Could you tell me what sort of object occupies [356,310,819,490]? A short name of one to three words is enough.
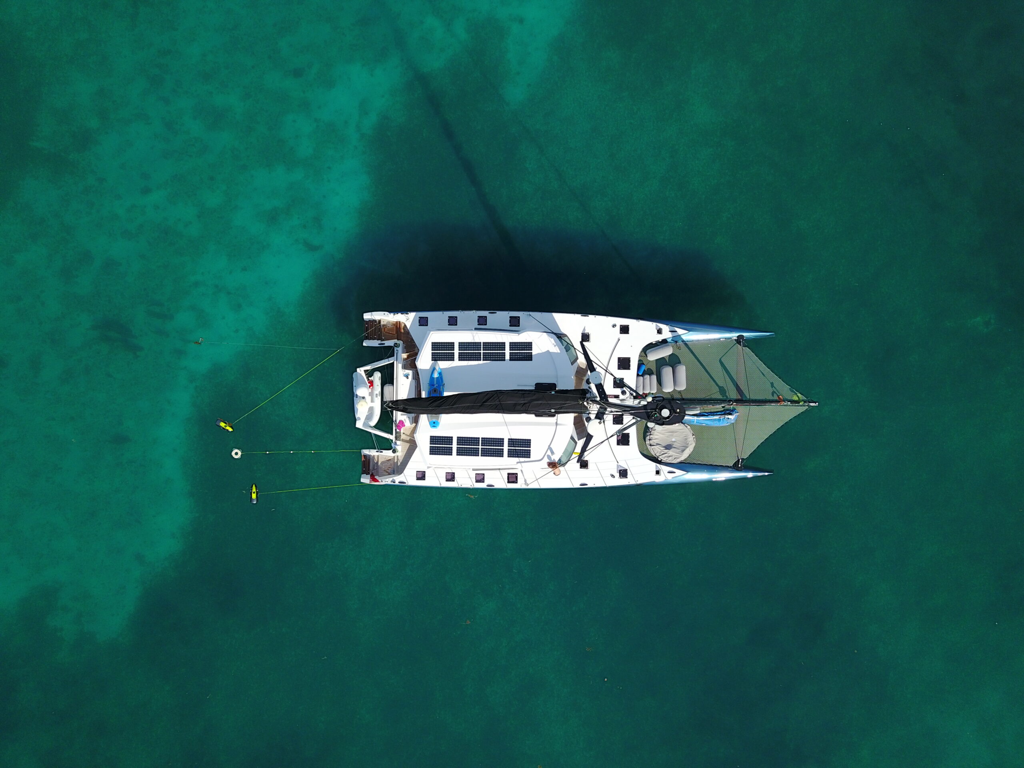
boat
